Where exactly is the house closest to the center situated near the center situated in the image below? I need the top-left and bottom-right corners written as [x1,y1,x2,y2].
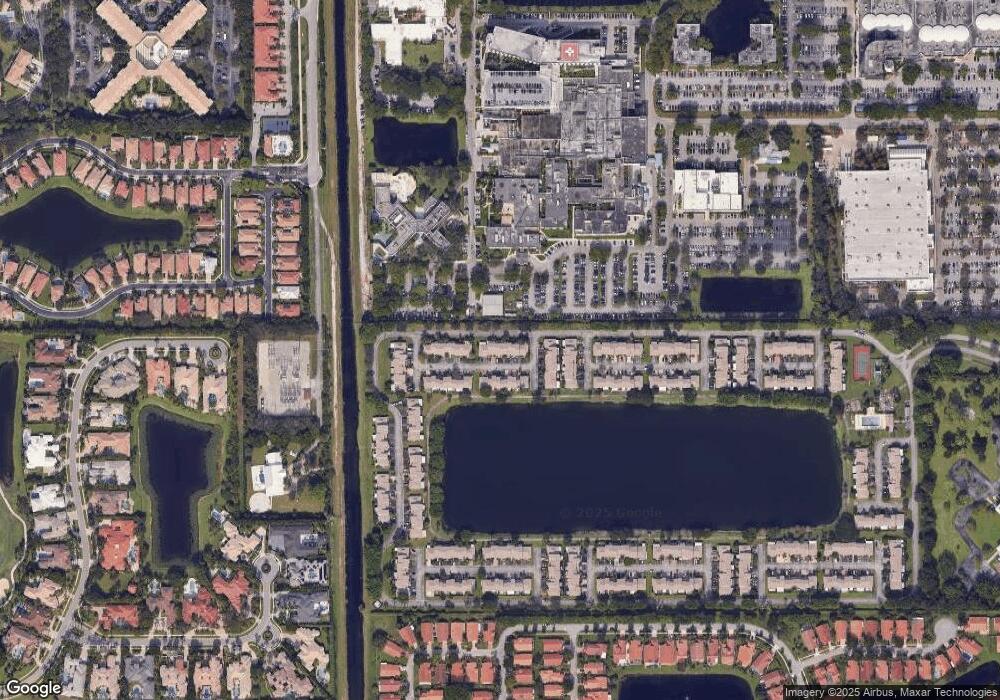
[479,340,528,359]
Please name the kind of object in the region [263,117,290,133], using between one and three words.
sports court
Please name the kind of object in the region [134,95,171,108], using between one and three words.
swimming pool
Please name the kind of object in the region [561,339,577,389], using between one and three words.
house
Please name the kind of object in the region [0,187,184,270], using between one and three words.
pond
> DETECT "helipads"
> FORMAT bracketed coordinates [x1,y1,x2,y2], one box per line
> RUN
[561,42,579,61]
